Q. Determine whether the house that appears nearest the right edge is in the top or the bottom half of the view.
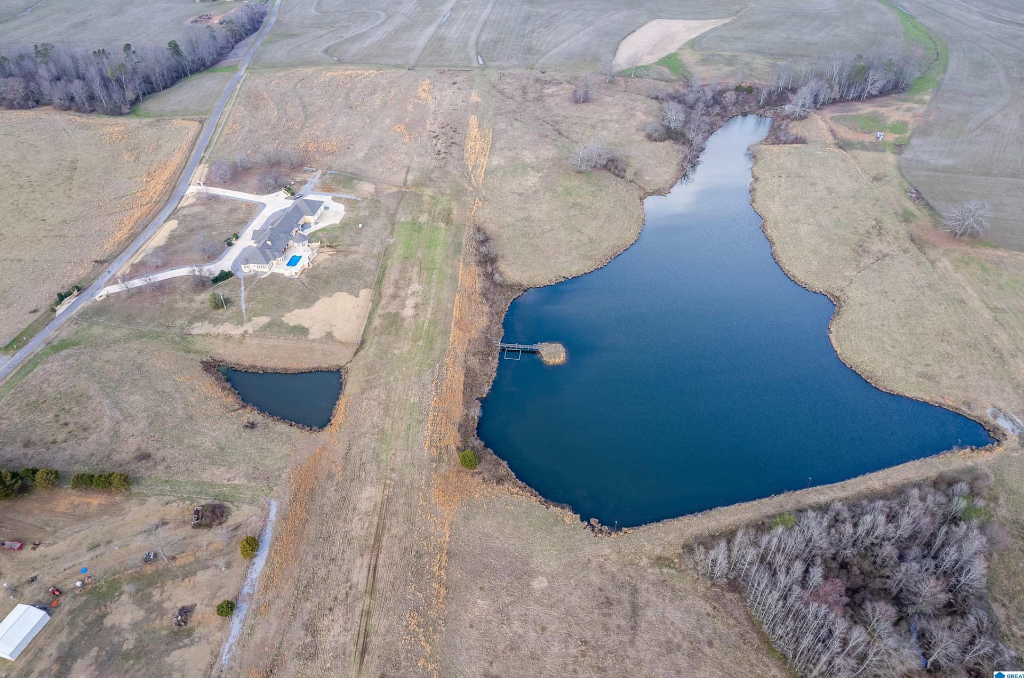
top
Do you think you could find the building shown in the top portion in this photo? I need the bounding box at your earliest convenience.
[240,196,326,273]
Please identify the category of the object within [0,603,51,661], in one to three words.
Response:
barn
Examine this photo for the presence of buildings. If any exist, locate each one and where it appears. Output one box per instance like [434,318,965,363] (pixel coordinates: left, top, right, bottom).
[0,603,51,661]
[240,196,326,273]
